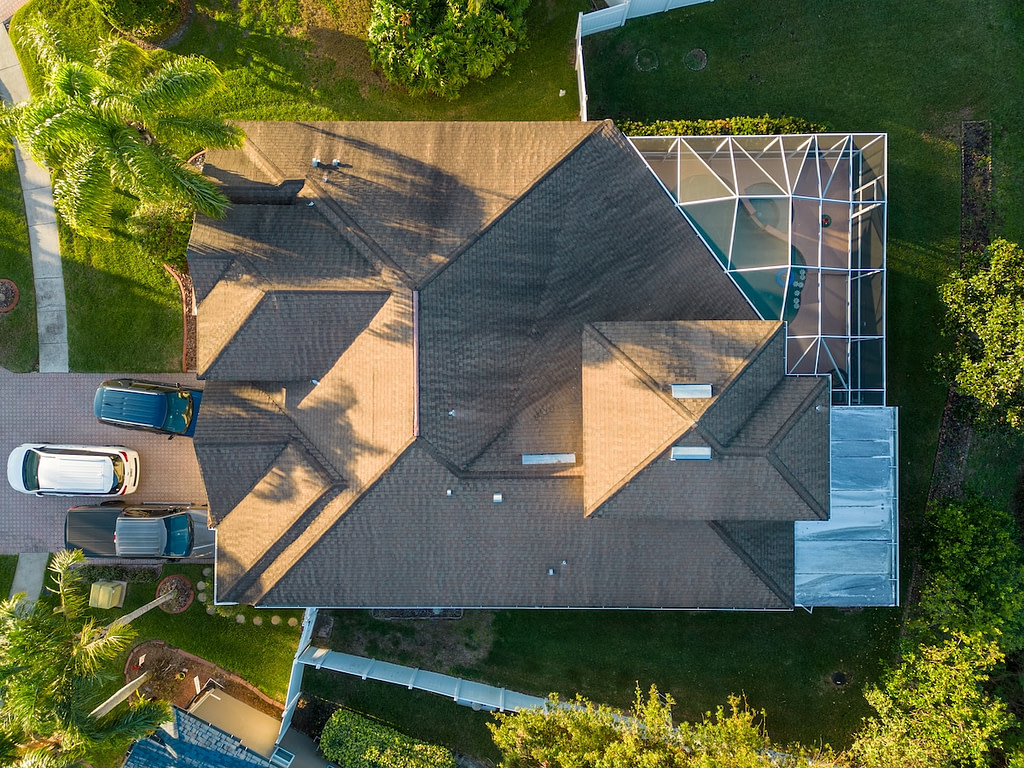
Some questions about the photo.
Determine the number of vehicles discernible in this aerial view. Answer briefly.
three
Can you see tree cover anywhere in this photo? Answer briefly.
Yes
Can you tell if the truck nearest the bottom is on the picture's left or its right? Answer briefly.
left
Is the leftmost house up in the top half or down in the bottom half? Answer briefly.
bottom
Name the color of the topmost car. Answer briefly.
blue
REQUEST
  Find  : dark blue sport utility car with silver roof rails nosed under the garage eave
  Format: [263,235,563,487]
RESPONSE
[96,378,204,438]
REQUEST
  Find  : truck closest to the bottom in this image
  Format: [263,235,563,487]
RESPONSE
[65,499,211,569]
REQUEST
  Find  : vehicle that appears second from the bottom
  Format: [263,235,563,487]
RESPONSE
[7,441,138,499]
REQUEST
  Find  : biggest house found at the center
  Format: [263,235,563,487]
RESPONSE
[180,120,834,610]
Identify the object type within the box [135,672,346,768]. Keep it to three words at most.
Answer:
house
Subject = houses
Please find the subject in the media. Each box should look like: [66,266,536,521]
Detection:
[180,120,834,610]
[135,672,346,768]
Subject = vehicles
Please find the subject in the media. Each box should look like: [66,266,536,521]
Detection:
[65,499,211,569]
[7,441,138,499]
[96,378,204,438]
